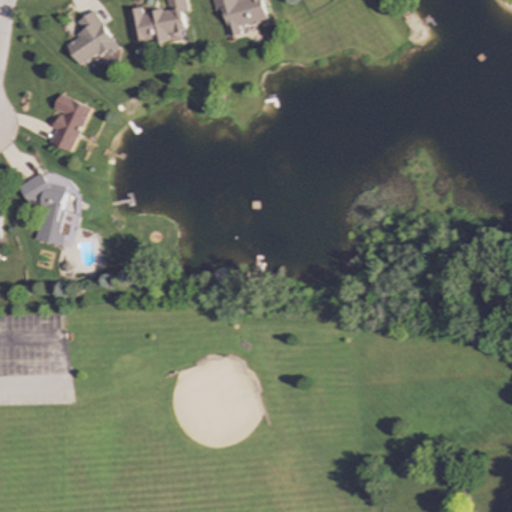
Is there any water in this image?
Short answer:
Yes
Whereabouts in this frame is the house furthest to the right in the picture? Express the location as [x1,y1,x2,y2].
[214,0,270,37]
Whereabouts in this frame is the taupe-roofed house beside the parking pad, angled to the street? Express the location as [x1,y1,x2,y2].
[68,10,119,66]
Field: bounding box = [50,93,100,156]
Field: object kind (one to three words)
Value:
house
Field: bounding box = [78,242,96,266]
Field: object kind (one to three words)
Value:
swimming pool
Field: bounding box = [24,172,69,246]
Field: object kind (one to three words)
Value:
house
